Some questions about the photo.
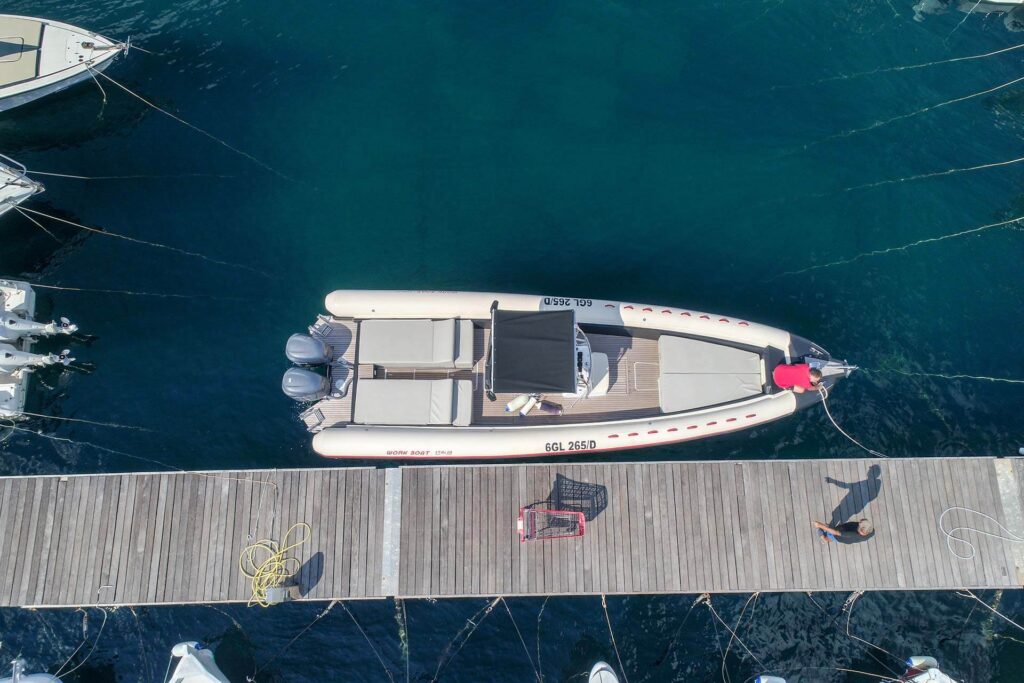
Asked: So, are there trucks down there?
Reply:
No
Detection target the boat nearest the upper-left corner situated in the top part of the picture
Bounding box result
[0,14,132,111]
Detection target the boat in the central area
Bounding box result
[284,288,859,459]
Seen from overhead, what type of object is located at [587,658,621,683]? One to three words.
boat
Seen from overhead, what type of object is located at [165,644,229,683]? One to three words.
boat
